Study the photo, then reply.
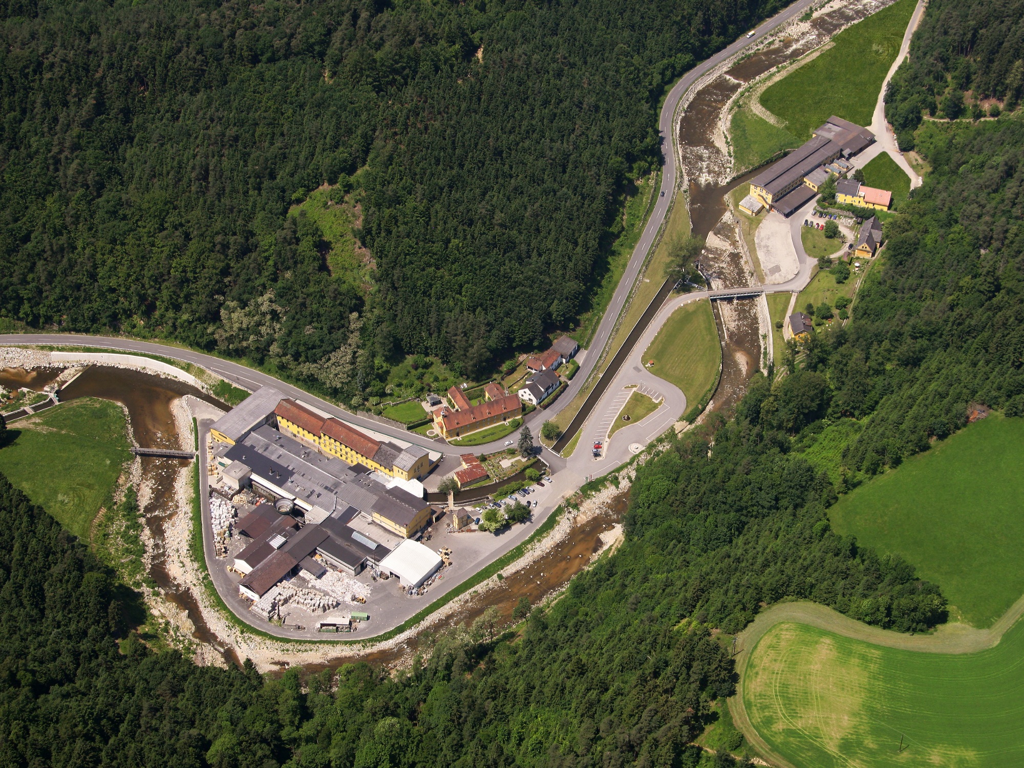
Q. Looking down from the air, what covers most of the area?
trees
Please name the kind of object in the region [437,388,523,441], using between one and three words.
building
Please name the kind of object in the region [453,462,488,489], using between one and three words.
shed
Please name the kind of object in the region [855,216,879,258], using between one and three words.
house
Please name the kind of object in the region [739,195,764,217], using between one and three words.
house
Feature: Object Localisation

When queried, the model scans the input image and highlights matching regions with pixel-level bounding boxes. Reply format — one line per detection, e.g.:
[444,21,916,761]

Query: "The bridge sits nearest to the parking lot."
[708,284,765,299]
